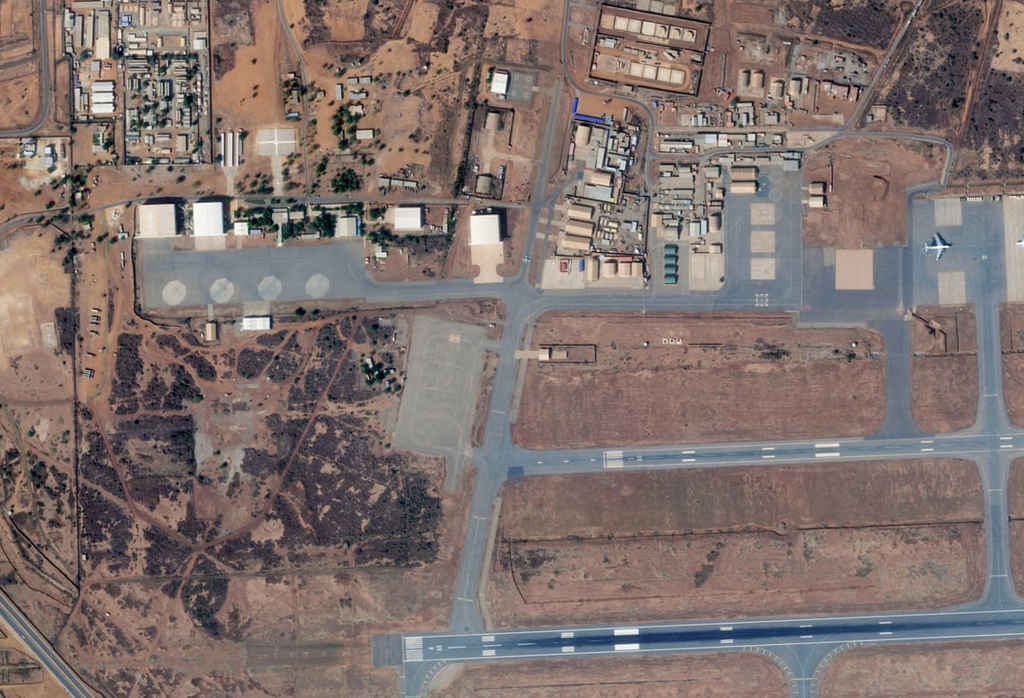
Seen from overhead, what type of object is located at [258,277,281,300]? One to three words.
helipad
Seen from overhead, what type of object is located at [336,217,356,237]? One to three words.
hangar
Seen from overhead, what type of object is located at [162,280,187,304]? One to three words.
helipad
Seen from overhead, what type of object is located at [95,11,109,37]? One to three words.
building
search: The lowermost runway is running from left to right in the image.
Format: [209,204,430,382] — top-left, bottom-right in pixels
[371,606,1024,666]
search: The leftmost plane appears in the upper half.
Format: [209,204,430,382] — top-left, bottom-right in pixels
[925,233,949,261]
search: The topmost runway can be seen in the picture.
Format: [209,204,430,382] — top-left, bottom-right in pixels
[503,429,1024,476]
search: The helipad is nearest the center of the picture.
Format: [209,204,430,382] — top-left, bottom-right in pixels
[305,275,329,299]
